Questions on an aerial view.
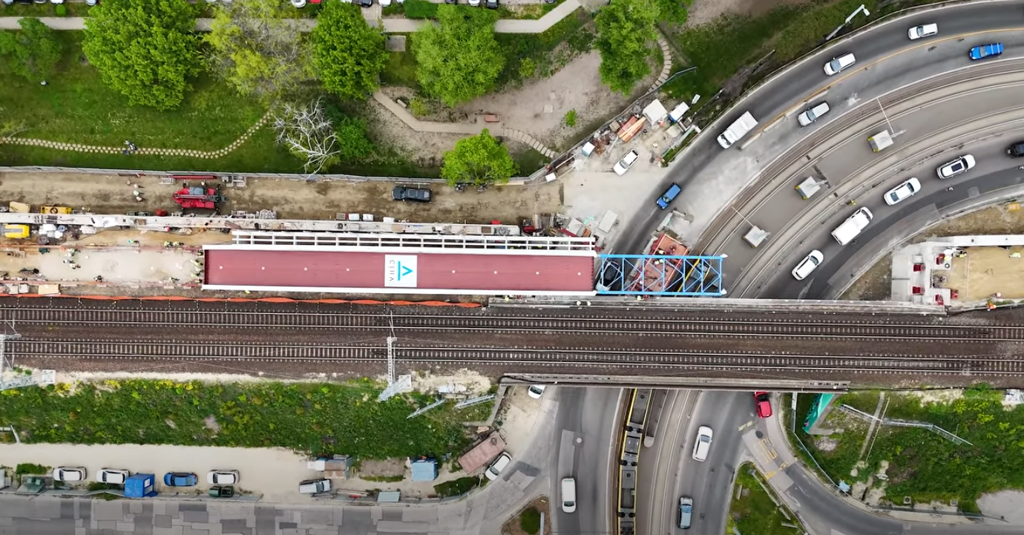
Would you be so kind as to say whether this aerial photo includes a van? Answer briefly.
Yes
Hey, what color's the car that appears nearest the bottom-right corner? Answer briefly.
red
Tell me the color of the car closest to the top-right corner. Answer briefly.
blue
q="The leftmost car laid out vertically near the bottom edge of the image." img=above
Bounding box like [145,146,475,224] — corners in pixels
[560,475,577,511]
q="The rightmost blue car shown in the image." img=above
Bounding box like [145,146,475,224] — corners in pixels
[966,41,1005,61]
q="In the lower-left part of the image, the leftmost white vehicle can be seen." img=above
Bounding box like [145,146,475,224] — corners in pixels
[55,464,88,482]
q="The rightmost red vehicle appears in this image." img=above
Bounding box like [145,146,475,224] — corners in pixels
[752,392,772,421]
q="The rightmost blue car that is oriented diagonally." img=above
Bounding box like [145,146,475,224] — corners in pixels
[655,181,682,210]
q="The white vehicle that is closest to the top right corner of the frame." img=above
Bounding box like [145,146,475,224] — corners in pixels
[902,21,941,42]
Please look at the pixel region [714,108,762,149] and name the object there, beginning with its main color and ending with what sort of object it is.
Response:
white truck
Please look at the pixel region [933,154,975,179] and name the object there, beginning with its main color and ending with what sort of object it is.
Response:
white car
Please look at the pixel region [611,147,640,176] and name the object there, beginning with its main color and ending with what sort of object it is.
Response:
white car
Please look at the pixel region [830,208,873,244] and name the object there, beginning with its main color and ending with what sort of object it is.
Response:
white van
